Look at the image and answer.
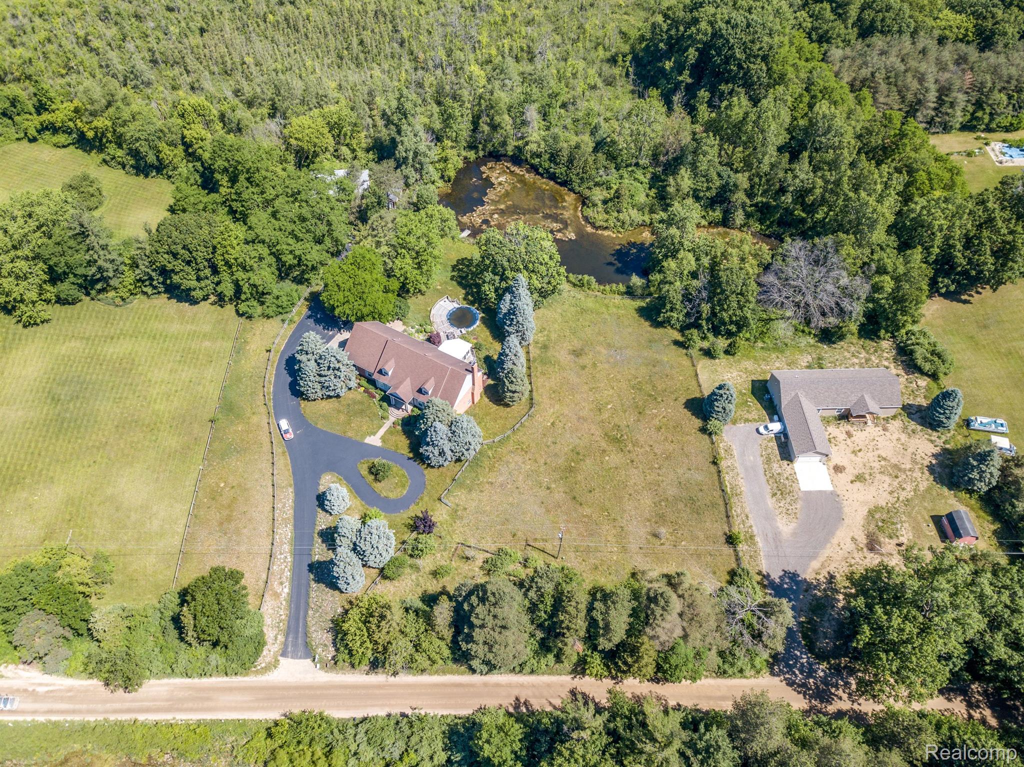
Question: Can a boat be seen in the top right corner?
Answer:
No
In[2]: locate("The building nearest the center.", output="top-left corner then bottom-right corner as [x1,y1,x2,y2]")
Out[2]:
[343,319,485,420]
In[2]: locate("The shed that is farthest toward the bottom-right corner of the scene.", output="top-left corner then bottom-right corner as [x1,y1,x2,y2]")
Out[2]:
[941,510,979,543]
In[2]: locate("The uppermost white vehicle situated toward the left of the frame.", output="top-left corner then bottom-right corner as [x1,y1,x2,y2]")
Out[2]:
[278,419,293,441]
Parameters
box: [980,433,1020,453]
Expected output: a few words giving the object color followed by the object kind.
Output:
white boat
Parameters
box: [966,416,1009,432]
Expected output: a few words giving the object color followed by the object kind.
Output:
white boat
